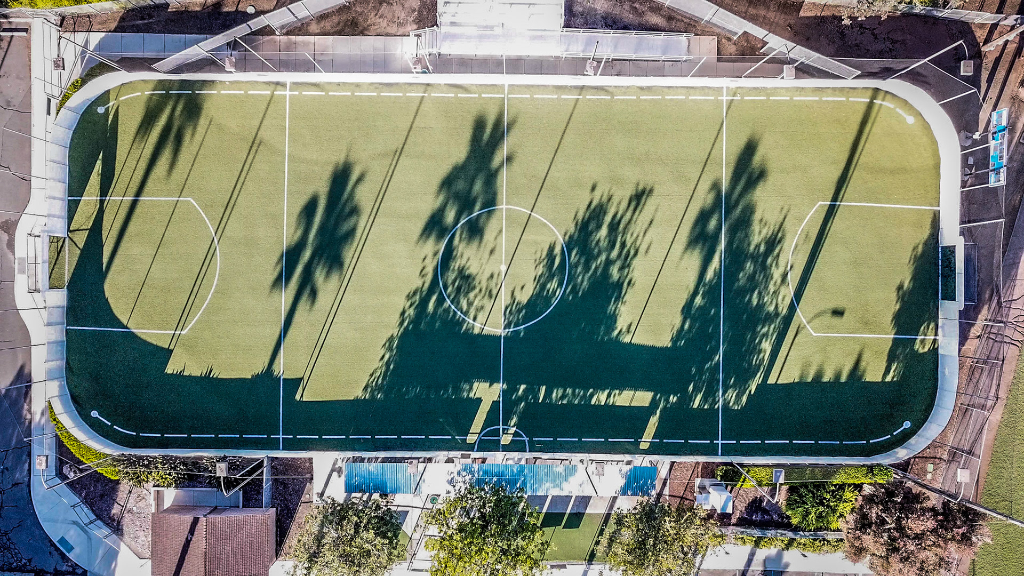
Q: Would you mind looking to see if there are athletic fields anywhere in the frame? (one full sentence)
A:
Yes, the picture does show an athletic field.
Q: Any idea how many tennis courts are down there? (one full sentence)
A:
There are no tennis courts in the image.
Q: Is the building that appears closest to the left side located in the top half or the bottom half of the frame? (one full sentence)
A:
The building that appears closest to the left side is in the bottom half of the image.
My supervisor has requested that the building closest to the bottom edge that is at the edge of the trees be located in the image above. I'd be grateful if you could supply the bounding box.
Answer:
[151,504,278,576]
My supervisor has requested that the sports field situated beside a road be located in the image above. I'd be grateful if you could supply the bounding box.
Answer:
[50,80,957,457]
